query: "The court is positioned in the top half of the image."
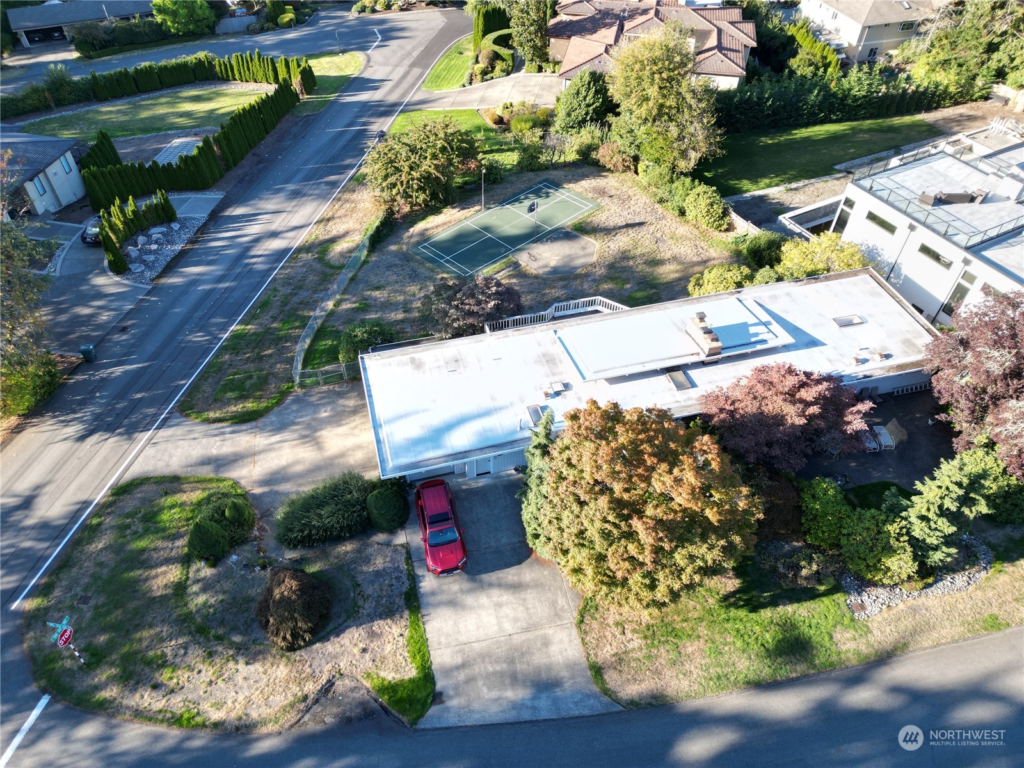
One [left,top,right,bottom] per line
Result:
[399,173,611,279]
